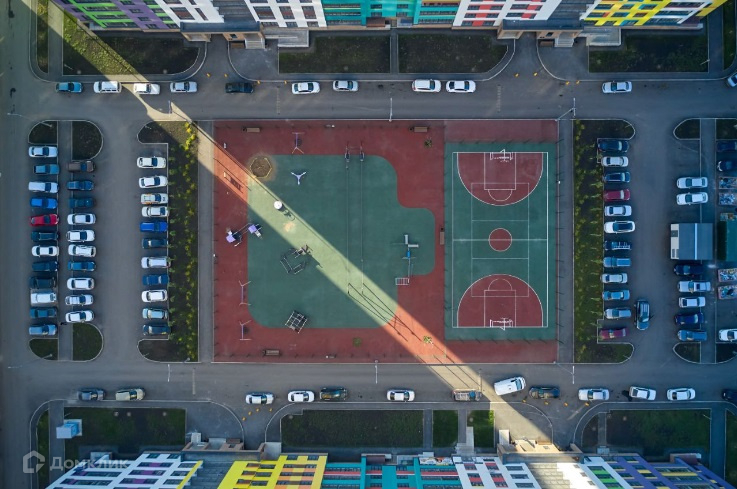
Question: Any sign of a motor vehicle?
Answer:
Yes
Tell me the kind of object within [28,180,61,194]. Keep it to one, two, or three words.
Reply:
vehicle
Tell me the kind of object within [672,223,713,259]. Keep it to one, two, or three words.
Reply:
shed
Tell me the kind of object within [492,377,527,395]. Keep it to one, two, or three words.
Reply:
vehicle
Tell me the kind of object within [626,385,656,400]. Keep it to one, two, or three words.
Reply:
car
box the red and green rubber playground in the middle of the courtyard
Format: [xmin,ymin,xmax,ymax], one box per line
[214,122,443,362]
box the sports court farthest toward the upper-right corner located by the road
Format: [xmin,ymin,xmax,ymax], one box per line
[443,122,556,362]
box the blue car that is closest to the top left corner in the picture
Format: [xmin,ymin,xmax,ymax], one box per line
[56,80,84,94]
